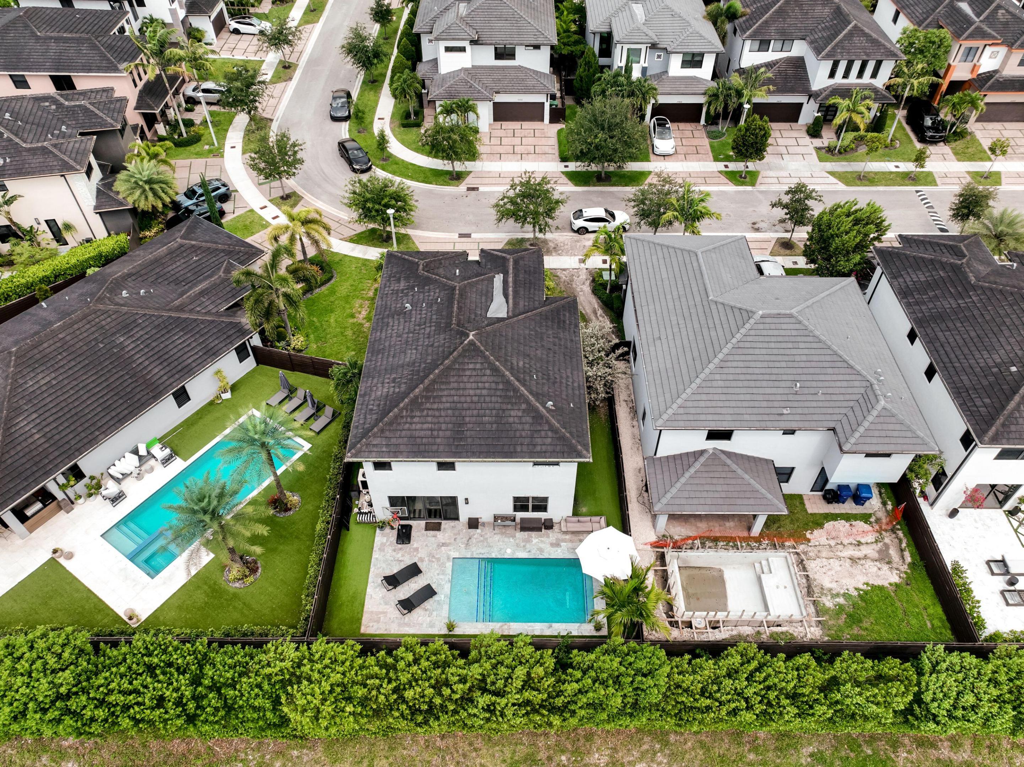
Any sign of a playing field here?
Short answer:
No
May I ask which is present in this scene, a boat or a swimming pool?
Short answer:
swimming pool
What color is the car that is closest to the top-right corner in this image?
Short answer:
black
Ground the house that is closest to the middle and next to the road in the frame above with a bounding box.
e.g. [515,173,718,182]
[343,243,594,522]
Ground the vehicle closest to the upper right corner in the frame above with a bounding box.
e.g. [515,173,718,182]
[902,97,948,139]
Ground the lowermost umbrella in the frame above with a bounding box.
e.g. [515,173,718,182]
[576,526,640,583]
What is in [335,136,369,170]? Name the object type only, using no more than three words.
car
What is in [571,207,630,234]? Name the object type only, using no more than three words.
car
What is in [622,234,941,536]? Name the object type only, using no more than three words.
house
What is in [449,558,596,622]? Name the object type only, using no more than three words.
swimming pool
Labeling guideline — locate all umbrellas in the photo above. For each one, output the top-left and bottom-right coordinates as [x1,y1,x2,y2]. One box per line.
[280,372,294,401]
[307,391,320,420]
[576,526,640,583]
